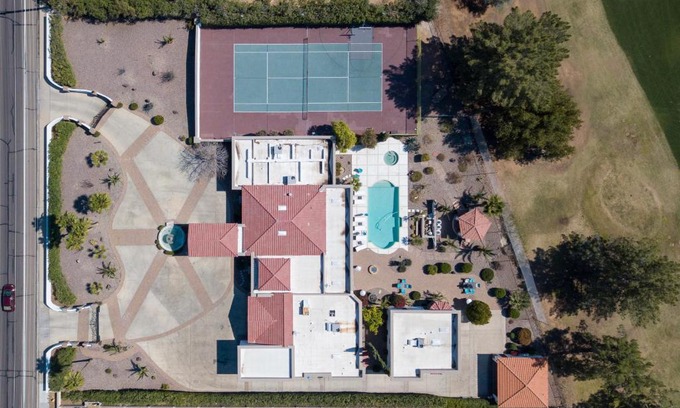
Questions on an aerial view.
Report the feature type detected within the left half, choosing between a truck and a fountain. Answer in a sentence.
The one visible within the left half is a fountain.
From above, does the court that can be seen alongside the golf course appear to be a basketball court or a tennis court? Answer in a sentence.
In the photo, the court that can be seen alongside the golf course shows up as a tennis court.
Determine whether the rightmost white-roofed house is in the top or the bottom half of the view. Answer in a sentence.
The bottom half of the photo is where the rightmost white-roofed house is.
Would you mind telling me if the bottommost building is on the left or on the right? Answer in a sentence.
The bottommost building appears in the right half of the scene.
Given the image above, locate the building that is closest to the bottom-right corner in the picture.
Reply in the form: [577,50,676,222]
[488,350,549,408]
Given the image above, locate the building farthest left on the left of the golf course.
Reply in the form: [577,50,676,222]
[186,137,362,378]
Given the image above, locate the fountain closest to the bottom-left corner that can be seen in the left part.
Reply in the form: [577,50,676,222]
[157,222,185,253]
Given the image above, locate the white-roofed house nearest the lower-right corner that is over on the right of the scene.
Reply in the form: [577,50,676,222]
[386,297,462,378]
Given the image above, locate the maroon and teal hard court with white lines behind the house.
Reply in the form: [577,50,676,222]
[201,25,420,138]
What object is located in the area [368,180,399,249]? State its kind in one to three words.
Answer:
swimming pool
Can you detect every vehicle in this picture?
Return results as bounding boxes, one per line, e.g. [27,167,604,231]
[1,283,18,312]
